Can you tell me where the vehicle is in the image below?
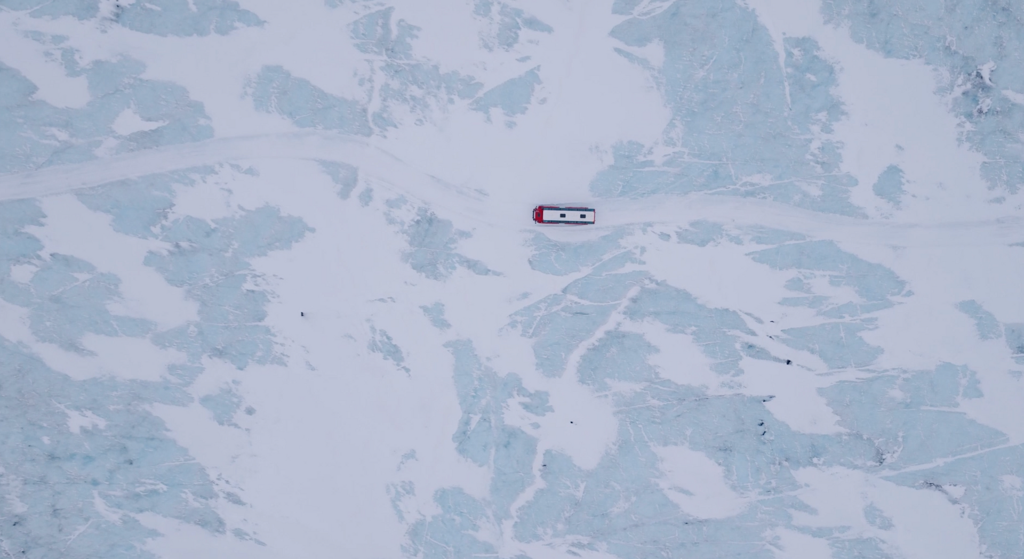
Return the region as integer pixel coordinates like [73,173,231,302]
[533,206,596,225]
